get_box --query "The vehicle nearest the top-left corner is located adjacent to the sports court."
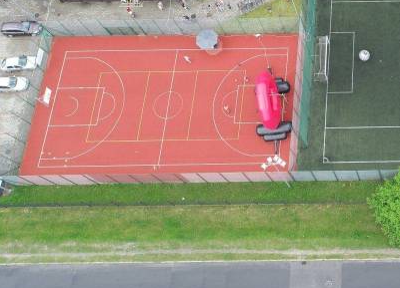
[0,20,43,39]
